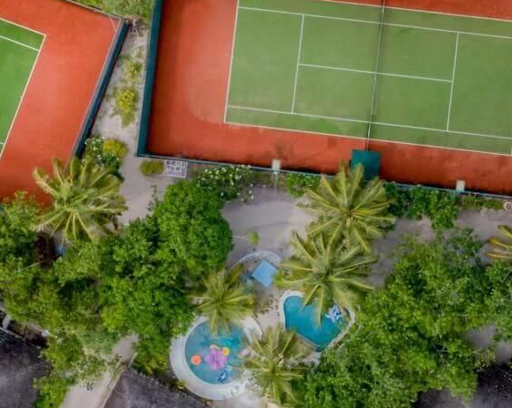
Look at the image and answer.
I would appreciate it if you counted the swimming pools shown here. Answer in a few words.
2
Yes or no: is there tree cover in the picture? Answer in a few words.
Yes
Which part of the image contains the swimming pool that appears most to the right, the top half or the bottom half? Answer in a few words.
bottom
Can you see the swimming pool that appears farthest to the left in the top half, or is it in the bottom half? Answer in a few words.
bottom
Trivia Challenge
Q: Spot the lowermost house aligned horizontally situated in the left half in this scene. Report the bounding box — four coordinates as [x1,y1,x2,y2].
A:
[106,367,207,408]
